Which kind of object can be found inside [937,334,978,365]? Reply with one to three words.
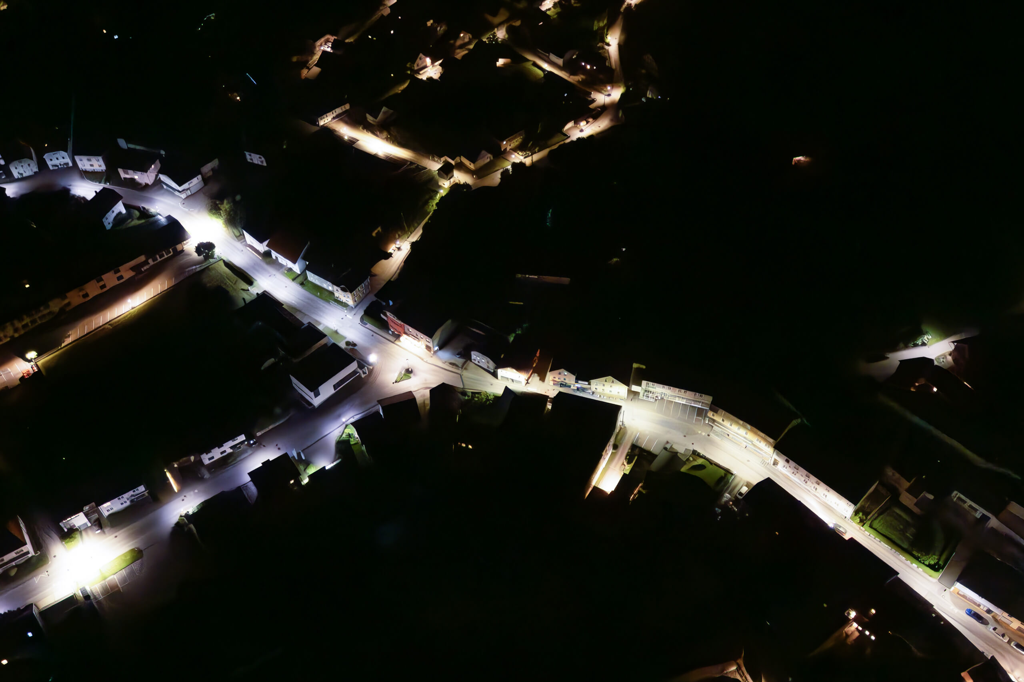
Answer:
shed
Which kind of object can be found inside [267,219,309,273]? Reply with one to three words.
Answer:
house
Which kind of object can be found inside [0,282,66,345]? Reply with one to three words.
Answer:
building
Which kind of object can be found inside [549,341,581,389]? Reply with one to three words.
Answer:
house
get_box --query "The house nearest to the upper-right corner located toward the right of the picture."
[772,138,814,167]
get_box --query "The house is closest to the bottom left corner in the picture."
[0,617,52,678]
